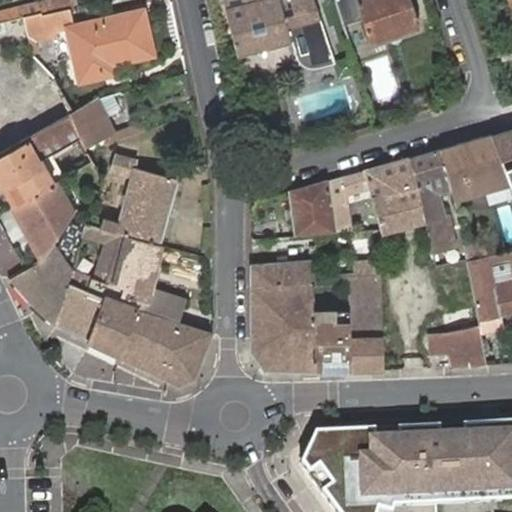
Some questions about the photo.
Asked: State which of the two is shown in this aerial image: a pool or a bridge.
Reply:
pool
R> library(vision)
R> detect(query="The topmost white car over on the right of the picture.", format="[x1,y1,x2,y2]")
[444,17,457,38]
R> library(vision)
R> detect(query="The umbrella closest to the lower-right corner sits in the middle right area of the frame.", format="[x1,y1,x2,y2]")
[446,250,460,264]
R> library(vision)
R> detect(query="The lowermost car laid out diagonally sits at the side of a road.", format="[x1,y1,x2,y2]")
[276,478,294,498]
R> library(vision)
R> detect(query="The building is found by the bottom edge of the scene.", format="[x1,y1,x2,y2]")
[302,418,512,512]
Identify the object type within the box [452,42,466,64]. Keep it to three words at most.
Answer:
vehicle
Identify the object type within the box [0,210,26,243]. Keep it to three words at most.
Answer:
shed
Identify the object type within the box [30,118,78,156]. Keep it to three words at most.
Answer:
house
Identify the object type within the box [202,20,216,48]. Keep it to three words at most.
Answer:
vehicle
